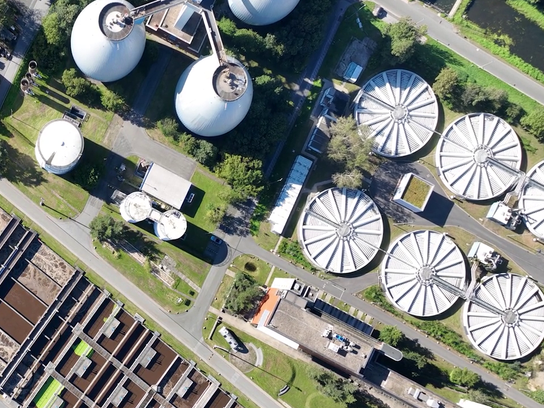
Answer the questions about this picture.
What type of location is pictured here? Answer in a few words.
industrial area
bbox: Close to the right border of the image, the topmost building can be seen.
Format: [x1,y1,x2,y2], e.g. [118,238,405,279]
[484,202,525,226]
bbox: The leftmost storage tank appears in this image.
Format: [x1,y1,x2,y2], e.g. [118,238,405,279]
[33,116,83,174]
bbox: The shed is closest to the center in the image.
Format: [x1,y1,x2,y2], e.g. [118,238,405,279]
[267,156,313,238]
